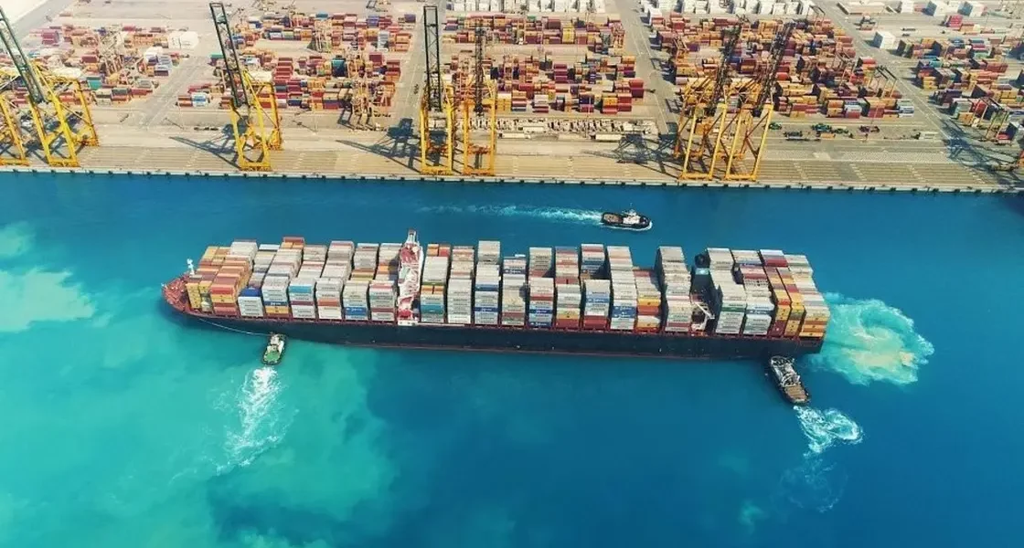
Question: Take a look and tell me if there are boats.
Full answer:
Yes, the frame does contain a boat.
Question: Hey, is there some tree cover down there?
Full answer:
No, tree cover can't be seen anywhere here.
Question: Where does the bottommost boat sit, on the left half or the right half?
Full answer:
It is on the right.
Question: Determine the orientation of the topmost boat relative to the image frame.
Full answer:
The topmost boat is laid out horizontally.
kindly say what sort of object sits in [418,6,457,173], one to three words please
container crane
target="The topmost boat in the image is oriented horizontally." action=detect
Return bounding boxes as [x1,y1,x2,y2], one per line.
[603,206,653,226]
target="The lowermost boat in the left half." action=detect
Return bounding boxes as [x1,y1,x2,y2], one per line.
[262,330,284,366]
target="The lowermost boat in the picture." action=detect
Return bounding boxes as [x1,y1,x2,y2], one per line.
[771,352,808,405]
